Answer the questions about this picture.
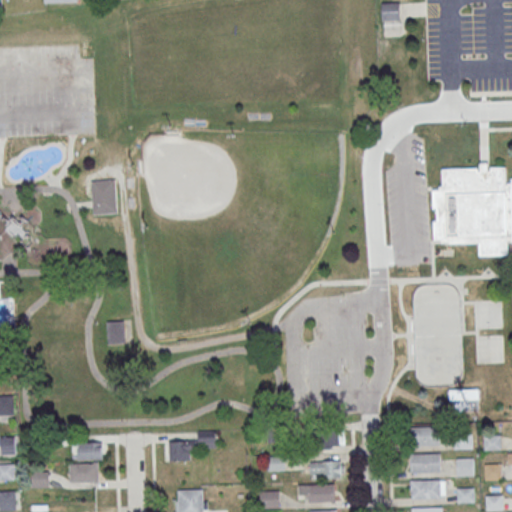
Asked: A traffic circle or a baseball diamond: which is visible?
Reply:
baseball diamond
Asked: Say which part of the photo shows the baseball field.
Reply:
center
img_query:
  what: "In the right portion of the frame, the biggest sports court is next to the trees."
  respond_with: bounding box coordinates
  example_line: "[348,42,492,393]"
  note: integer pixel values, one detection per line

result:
[414,285,464,386]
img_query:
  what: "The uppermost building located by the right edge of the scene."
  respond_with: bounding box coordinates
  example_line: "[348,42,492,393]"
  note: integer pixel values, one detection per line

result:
[432,161,512,258]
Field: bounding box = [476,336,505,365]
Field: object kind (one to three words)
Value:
basketball court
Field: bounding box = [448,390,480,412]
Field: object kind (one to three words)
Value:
building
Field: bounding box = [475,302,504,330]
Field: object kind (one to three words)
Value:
basketball court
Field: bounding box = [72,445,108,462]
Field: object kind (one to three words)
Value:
house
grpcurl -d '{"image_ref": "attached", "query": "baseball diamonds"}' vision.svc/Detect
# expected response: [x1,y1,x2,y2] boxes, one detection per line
[140,132,346,340]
